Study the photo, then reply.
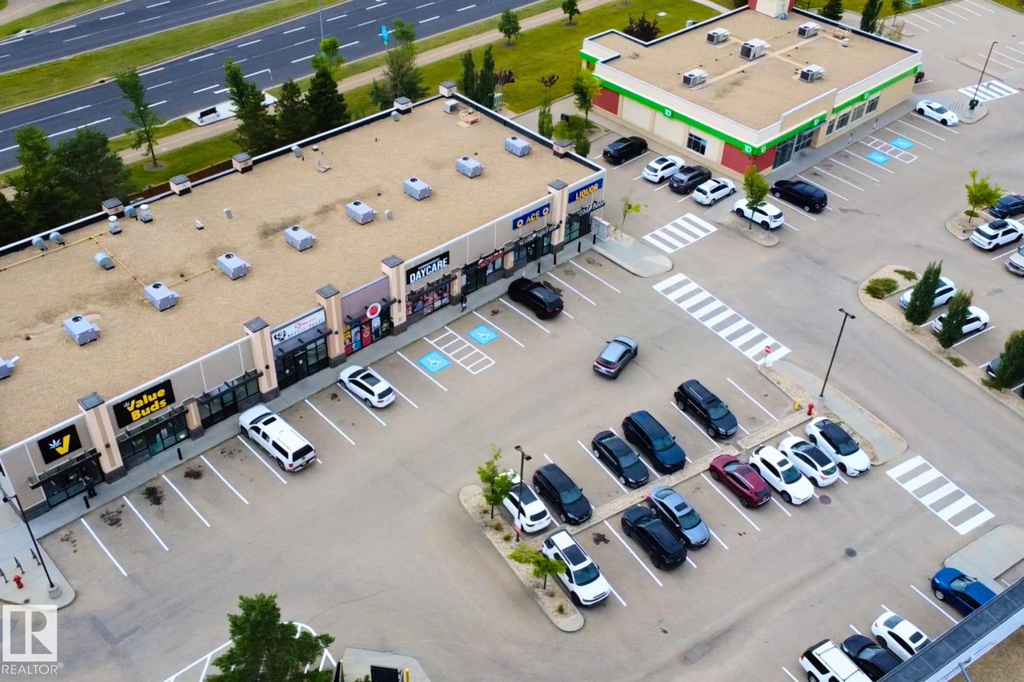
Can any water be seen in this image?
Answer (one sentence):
No, there is no water in the image.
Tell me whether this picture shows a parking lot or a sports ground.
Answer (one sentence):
This image shows a parking lot.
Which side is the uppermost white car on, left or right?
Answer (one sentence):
The uppermost white car appears in the right half of the scene.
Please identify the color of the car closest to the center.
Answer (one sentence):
The color of the car closest to the center is black.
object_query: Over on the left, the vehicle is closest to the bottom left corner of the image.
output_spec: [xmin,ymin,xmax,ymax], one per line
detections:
[241,410,313,473]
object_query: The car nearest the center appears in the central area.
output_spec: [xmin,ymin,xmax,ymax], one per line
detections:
[510,280,562,318]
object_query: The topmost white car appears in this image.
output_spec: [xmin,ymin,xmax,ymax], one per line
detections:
[917,101,959,124]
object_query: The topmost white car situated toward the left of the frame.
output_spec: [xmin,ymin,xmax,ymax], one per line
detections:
[339,364,396,409]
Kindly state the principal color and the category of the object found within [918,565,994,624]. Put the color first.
blue car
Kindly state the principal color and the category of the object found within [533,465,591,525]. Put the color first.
black car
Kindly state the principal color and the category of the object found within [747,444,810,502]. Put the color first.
white car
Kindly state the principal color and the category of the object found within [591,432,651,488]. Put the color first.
black car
